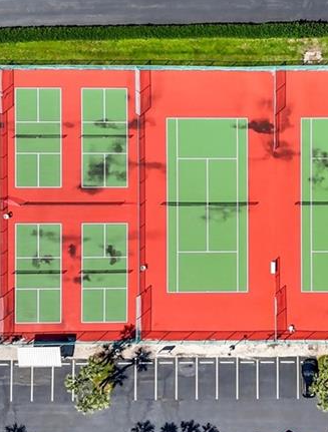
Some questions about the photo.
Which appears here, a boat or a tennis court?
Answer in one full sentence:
Visible in the photo is a tennis court.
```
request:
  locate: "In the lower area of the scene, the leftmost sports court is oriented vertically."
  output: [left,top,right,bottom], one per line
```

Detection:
[12,223,63,323]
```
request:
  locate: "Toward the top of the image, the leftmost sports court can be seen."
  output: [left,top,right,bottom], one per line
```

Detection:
[12,88,63,188]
